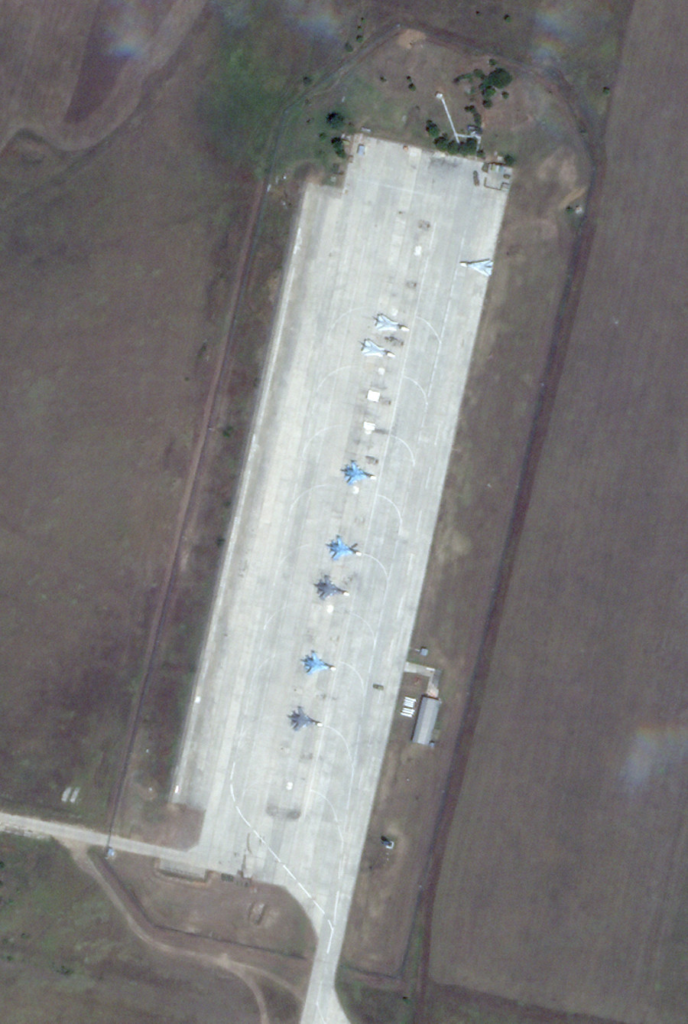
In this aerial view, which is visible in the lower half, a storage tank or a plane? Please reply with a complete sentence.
There is a plane in the lower half.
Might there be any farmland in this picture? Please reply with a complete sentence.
Yes, there is farmland in the image.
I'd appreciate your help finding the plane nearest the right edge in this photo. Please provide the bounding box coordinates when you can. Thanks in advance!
[460,260,495,276]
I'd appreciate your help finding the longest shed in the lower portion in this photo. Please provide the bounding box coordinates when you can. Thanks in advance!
[413,697,440,745]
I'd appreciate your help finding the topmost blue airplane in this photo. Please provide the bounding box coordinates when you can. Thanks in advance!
[340,460,377,485]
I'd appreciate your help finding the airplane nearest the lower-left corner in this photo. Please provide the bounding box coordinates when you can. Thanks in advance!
[286,708,324,732]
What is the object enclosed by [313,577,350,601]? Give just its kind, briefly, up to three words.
airplane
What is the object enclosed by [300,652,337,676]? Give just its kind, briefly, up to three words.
airplane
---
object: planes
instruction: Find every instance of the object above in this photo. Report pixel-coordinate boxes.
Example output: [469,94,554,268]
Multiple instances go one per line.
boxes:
[325,536,362,561]
[375,316,410,332]
[460,260,495,276]
[340,460,377,485]
[360,341,396,357]
[300,652,337,676]
[313,577,350,601]
[286,708,324,732]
